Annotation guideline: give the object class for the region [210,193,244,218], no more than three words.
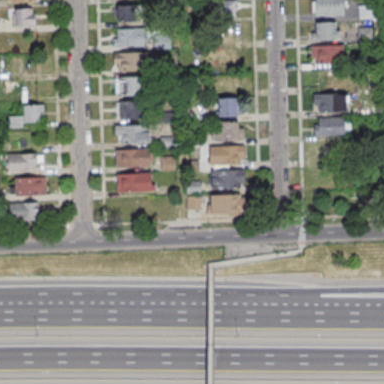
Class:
house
